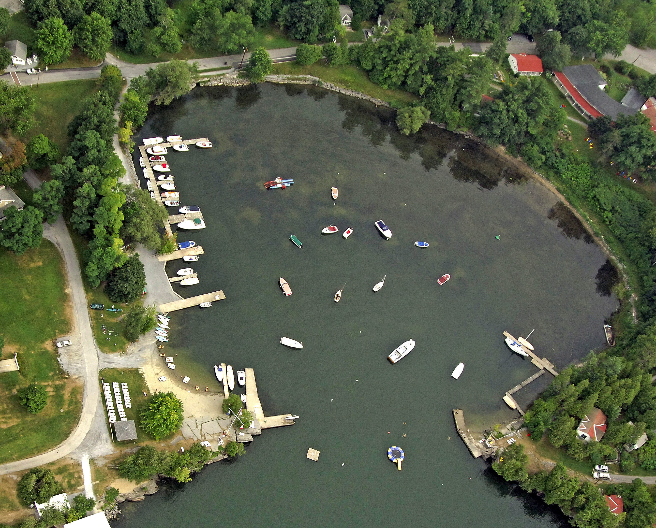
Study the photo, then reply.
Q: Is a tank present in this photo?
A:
No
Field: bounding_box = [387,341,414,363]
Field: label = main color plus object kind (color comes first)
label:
white boat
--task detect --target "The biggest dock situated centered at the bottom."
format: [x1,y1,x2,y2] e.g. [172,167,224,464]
[245,368,295,429]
